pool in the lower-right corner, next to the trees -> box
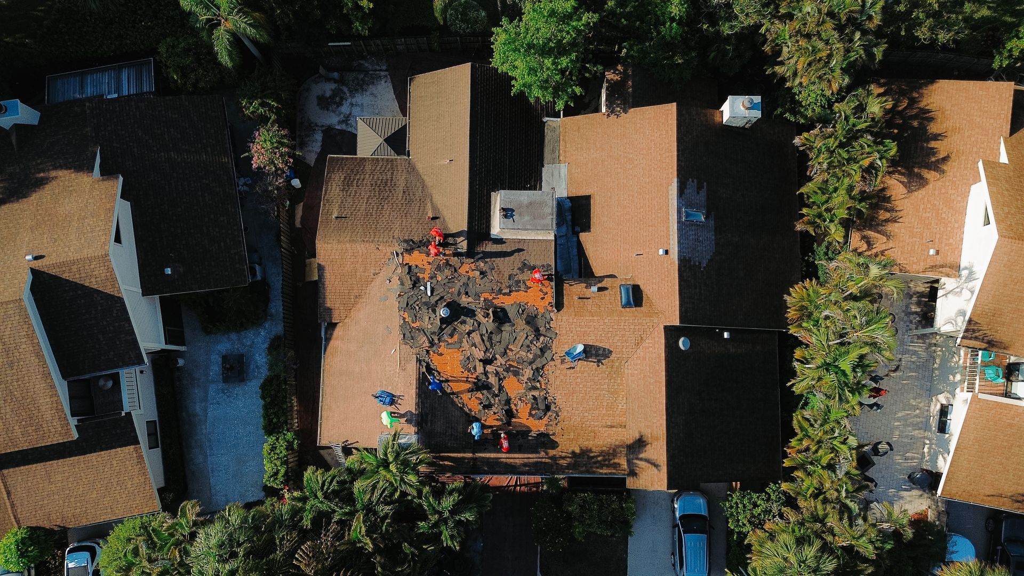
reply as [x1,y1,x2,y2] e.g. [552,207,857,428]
[928,528,981,576]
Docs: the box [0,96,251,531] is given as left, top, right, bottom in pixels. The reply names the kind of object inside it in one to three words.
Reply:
house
